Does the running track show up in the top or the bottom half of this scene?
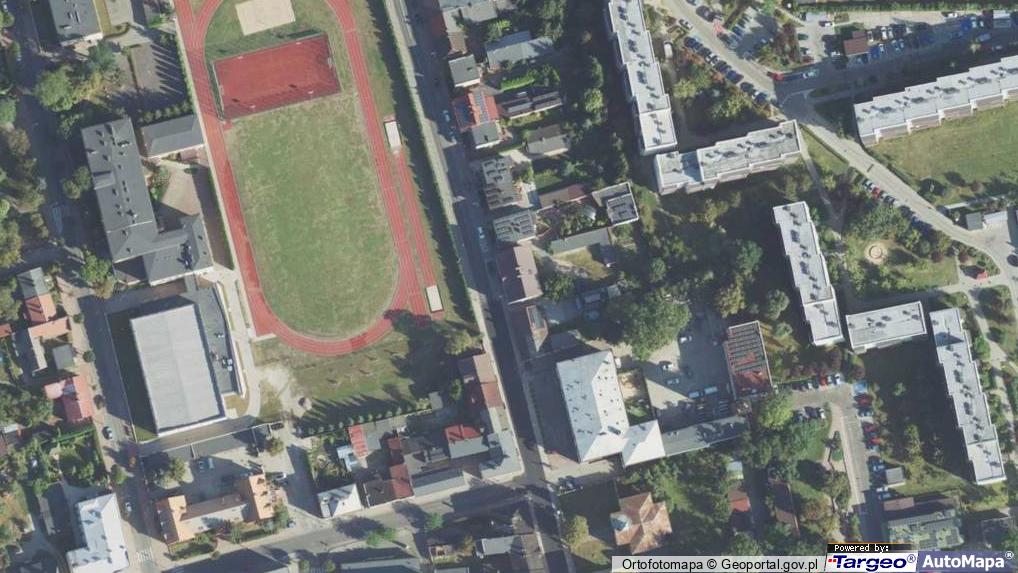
top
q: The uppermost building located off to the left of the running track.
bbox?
[51,0,105,48]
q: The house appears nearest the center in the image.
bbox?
[497,243,542,307]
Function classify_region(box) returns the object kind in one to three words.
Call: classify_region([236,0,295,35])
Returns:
sports court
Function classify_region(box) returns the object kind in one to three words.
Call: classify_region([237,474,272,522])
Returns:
house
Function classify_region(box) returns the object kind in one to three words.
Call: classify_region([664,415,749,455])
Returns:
shed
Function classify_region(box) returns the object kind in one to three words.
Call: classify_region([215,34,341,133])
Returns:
sports court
